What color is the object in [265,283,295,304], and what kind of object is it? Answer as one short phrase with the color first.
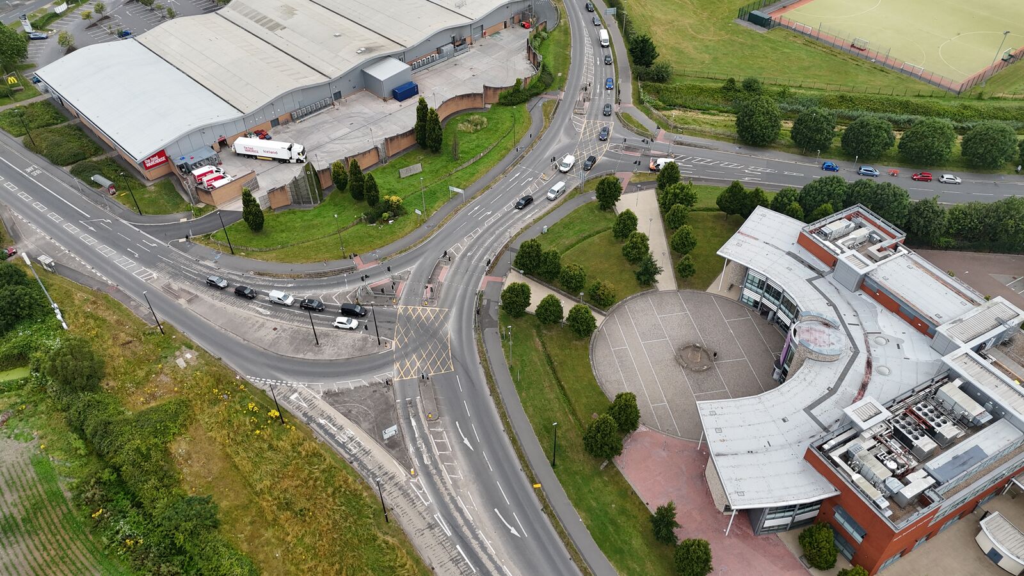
white vehicle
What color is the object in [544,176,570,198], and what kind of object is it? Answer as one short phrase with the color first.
white vehicle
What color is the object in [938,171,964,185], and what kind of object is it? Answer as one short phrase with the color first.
gray car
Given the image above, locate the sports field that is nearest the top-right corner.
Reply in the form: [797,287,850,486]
[783,0,1024,84]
